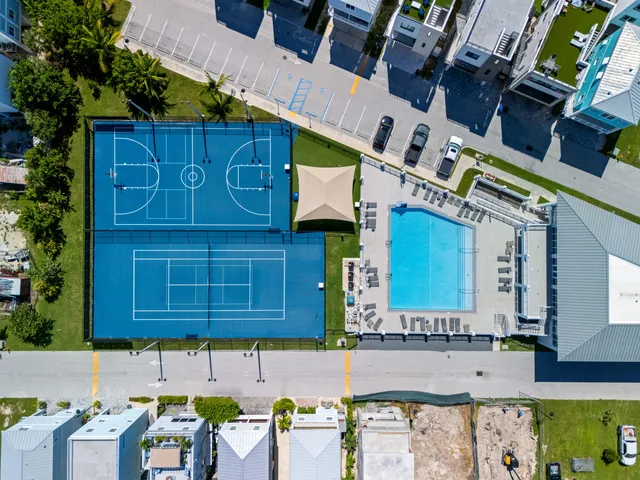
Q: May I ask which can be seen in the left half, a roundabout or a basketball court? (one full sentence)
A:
It is a basketball court that can be seen in the left half.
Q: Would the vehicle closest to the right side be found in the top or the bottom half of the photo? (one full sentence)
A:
The vehicle closest to the right side is in the bottom half of the image.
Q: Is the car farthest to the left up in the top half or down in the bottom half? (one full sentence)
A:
The car farthest to the left is in the top half of the image.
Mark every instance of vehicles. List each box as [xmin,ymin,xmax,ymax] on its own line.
[544,462,562,480]
[437,138,462,179]
[372,118,394,151]
[502,449,521,480]
[404,126,429,166]
[617,425,638,464]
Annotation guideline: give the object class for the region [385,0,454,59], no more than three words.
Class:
house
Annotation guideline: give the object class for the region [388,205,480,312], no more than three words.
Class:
swimming pool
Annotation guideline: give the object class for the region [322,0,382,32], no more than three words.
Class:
house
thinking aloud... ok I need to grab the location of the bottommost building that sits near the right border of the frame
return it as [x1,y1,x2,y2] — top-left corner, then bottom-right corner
[537,190,640,362]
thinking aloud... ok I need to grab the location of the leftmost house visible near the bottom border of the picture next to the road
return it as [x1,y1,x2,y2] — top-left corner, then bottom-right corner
[1,400,81,480]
